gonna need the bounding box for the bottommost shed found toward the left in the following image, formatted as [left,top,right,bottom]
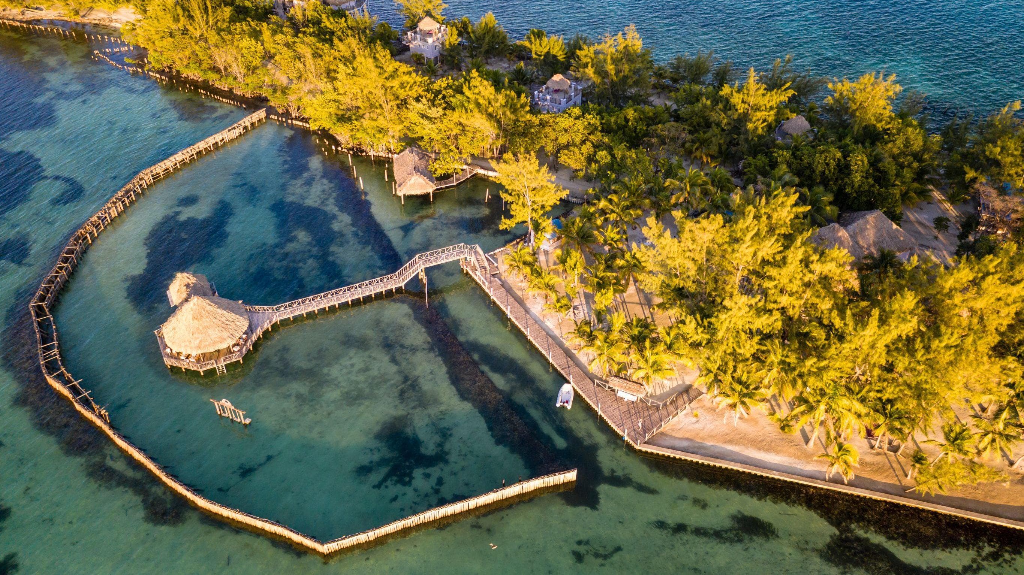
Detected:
[152,295,283,387]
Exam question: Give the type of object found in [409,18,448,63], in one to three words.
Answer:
house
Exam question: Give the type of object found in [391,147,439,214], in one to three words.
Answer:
building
